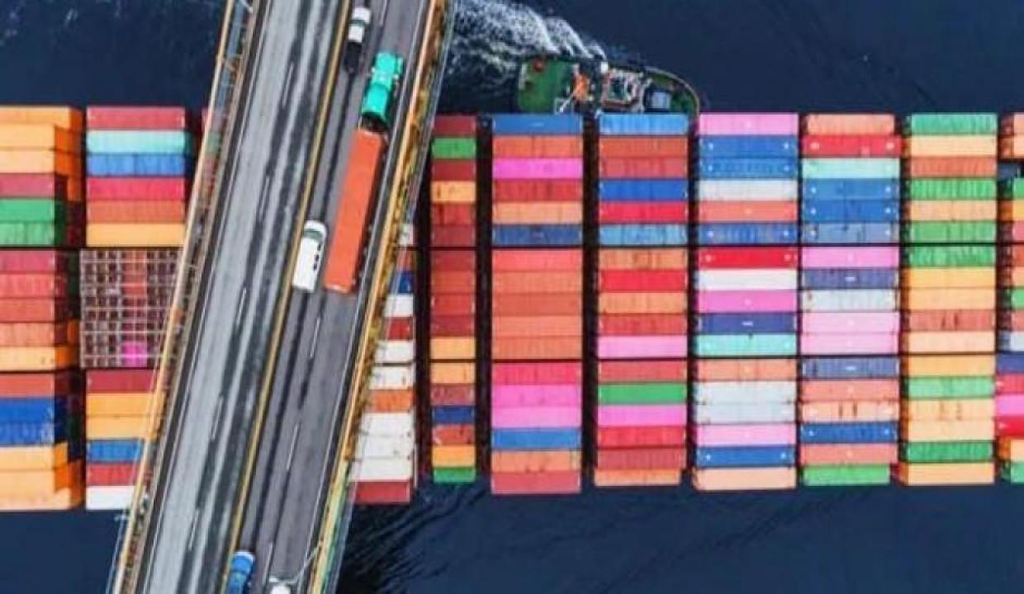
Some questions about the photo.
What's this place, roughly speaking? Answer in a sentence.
It's a port.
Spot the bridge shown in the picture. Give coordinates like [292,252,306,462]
[105,0,463,594]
